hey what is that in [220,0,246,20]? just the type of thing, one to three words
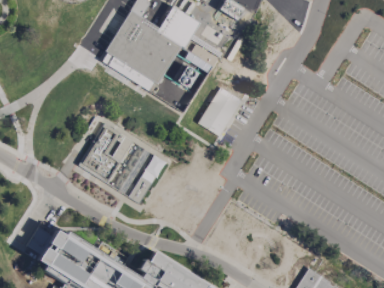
building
